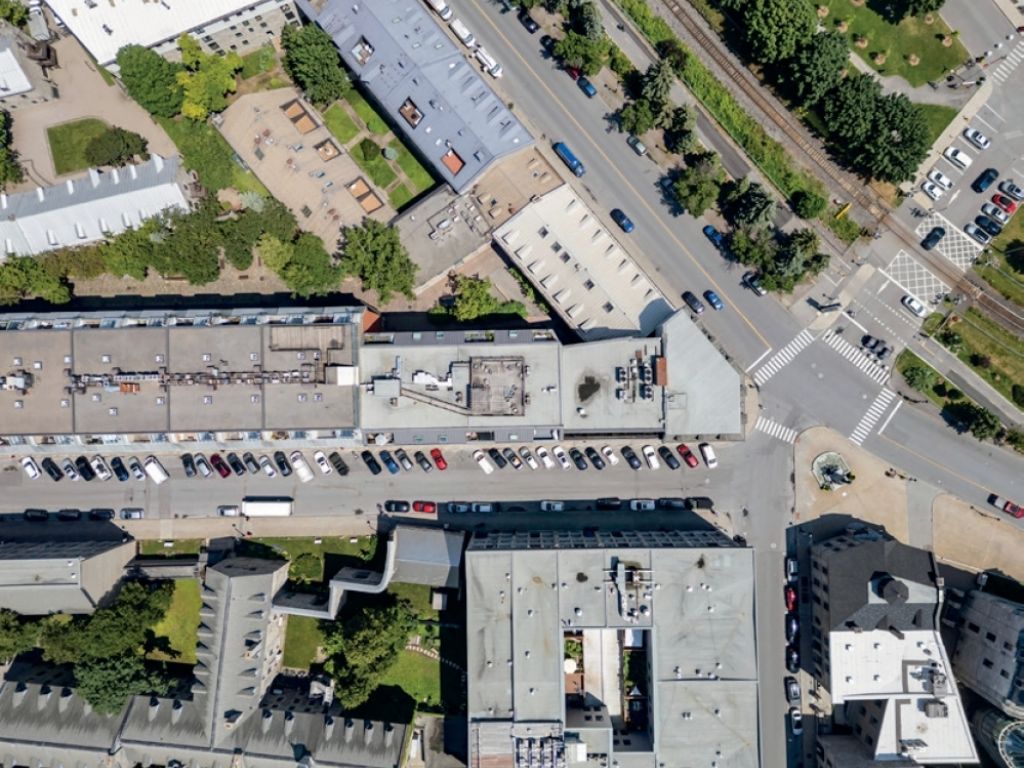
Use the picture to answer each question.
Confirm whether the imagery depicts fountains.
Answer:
Yes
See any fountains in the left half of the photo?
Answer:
No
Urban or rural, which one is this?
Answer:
urban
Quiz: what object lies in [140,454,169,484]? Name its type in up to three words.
van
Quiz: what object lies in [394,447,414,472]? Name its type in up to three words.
car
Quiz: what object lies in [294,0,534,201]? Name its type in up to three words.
building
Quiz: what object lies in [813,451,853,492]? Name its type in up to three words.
fountain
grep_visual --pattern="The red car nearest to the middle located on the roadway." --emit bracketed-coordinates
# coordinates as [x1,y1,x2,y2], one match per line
[430,446,448,471]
